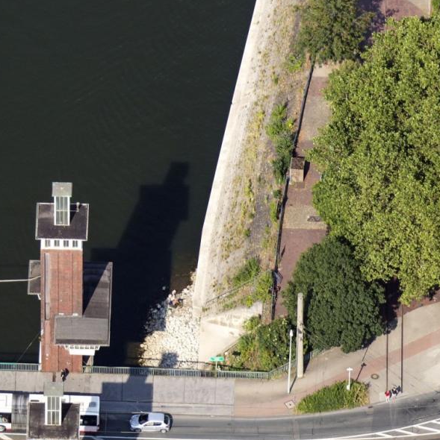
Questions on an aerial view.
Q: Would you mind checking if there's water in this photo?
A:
Yes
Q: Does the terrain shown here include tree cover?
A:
Yes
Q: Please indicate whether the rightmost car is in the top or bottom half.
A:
bottom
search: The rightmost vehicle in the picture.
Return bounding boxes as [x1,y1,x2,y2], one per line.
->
[131,410,173,432]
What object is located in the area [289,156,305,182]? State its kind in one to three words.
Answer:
shed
